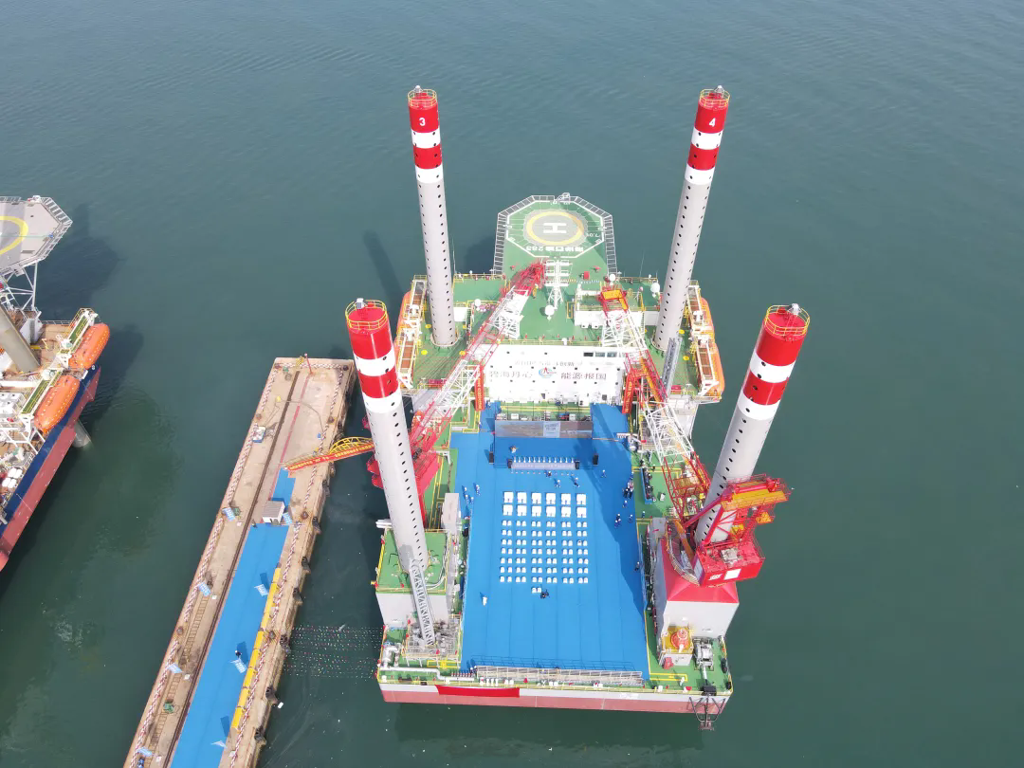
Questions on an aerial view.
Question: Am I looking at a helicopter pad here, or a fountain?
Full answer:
Of the two, only a helicopter pad appears.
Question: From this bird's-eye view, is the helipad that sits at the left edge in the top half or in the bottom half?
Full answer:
The top half of the photo is where the helipad that sits at the left edge is.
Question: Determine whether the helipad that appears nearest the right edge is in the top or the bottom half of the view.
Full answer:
You can find the helipad that appears nearest the right edge in the top half.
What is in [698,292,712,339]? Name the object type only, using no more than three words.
boat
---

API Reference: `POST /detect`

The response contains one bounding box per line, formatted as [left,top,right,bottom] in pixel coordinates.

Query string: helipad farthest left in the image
[0,196,74,319]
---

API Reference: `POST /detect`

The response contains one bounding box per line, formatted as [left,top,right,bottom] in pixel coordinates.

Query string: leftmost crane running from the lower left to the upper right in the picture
[358,257,550,528]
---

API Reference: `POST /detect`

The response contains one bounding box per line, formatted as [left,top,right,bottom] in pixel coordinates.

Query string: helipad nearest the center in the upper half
[489,189,627,290]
